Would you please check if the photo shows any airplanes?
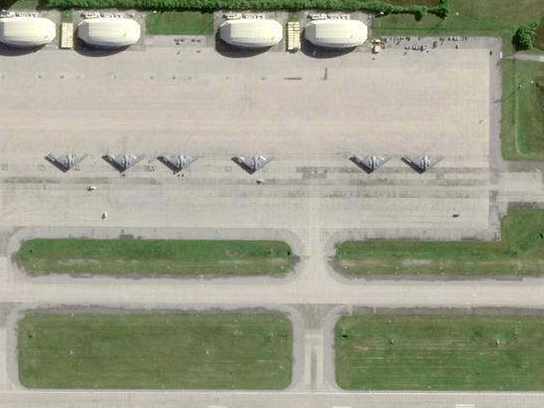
Yes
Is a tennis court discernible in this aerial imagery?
No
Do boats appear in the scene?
No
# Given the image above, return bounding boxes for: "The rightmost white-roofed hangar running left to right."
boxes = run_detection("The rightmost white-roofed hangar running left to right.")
[304,21,367,52]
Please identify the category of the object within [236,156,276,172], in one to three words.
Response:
airplane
